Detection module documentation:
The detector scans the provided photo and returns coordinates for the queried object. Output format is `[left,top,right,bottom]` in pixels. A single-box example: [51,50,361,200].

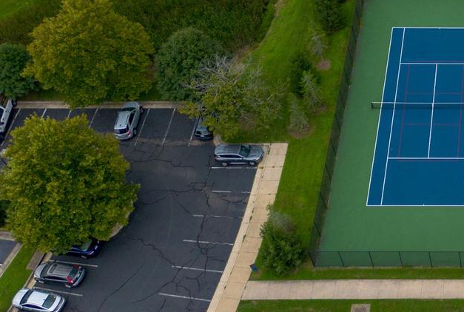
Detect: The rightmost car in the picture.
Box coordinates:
[212,144,264,167]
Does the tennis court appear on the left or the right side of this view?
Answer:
right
